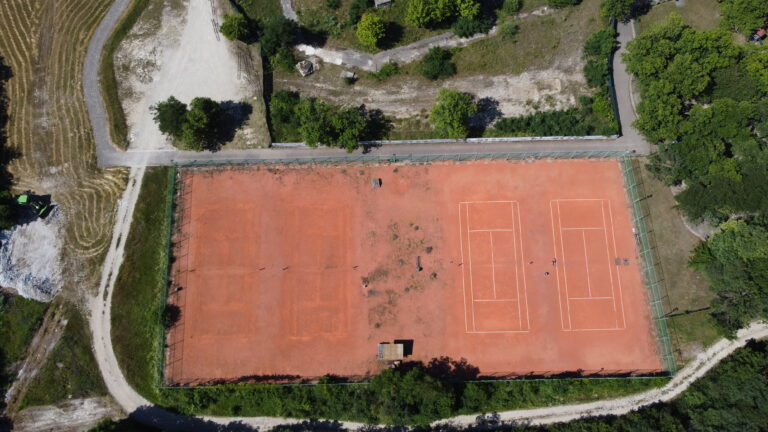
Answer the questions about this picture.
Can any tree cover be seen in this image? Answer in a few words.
Yes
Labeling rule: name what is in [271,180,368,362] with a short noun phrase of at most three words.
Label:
tennis court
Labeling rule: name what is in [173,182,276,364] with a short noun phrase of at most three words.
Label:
tennis court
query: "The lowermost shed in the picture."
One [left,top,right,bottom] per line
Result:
[382,343,401,358]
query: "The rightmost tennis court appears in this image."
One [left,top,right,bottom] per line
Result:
[532,176,646,357]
